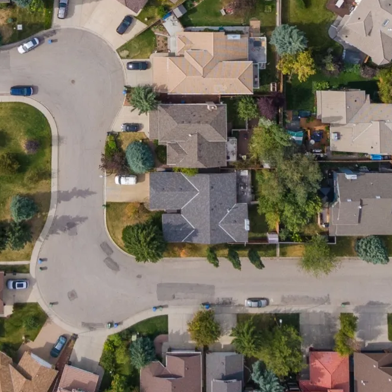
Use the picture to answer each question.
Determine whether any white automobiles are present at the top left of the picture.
Yes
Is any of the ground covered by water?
No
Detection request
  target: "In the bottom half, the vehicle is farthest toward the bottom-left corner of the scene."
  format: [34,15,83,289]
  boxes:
[50,333,67,356]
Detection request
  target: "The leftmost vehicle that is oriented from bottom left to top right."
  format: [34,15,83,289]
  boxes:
[17,36,39,53]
